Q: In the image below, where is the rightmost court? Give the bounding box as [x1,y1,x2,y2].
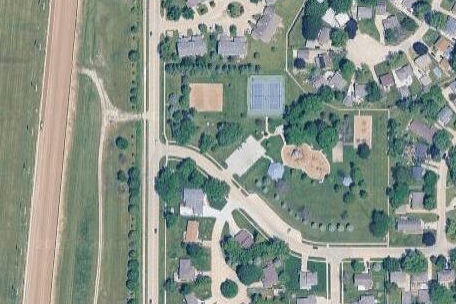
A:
[353,115,371,149]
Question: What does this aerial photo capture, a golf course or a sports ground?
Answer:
sports ground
